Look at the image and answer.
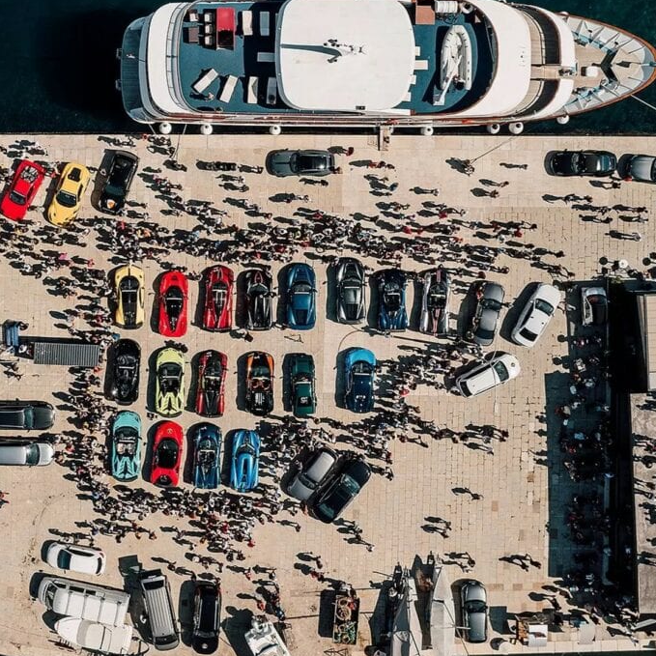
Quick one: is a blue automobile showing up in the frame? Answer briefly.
Yes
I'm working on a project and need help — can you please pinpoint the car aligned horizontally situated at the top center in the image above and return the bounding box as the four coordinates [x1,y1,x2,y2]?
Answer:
[266,145,336,179]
